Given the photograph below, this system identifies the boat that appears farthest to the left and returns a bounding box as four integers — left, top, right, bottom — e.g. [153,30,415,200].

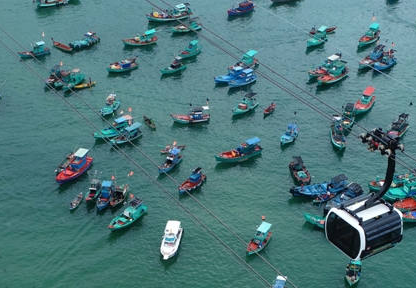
[18,40,51,59]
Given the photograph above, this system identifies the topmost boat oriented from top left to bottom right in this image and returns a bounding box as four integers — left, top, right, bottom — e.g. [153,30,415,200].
[51,37,72,53]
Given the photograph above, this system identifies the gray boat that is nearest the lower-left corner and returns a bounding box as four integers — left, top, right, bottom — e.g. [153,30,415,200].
[70,192,83,210]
